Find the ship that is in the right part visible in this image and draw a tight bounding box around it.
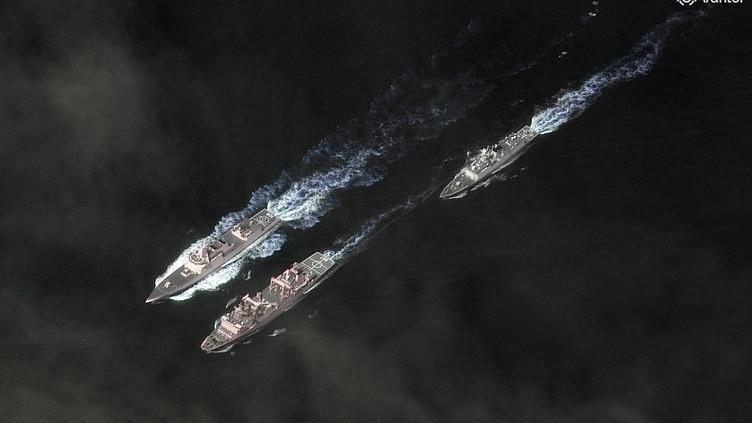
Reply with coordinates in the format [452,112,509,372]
[440,126,538,198]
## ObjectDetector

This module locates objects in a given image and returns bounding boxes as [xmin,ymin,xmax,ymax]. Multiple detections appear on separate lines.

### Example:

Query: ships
[440,126,538,198]
[146,209,281,302]
[200,252,336,351]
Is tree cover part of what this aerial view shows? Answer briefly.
No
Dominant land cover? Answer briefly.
water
